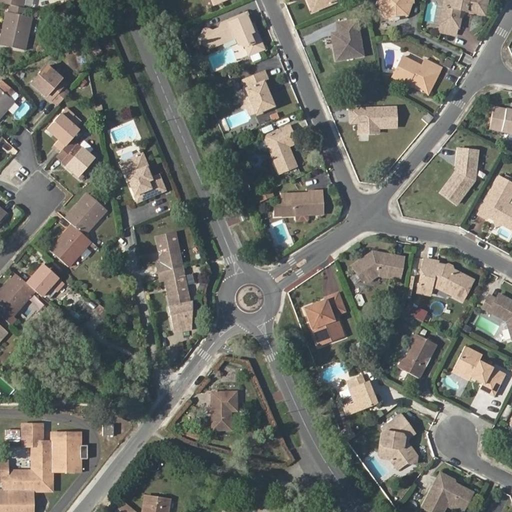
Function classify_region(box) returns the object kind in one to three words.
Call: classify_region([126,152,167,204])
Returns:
house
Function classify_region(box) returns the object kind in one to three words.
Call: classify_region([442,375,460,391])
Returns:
swimming pool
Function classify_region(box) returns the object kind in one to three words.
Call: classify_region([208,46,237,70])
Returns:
swimming pool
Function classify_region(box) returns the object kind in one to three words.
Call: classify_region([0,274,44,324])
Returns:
house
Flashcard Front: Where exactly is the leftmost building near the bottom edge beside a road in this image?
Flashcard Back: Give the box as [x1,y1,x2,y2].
[0,423,82,512]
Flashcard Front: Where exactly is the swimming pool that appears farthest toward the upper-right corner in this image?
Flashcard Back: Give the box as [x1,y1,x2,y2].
[424,2,436,23]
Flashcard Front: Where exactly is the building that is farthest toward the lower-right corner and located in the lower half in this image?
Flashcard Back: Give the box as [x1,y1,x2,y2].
[420,472,476,512]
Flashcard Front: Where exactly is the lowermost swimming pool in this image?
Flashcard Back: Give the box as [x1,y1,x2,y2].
[367,455,391,478]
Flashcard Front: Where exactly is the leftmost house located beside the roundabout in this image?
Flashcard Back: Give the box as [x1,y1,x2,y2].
[154,231,194,334]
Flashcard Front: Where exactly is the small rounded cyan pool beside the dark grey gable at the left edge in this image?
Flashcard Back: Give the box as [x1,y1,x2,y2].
[14,101,30,120]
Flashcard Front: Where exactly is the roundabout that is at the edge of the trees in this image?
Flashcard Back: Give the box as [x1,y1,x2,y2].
[218,268,281,330]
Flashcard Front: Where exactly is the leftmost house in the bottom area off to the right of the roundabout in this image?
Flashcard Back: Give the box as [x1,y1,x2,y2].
[302,292,347,348]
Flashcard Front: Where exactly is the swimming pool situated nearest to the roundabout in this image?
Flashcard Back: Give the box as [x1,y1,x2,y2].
[272,224,290,246]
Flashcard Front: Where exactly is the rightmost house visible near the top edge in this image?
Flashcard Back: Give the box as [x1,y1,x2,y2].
[439,0,489,37]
